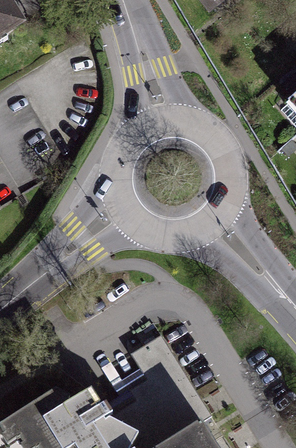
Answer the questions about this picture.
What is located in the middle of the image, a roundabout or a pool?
roundabout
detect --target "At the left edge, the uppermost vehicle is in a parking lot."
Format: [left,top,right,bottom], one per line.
[9,98,30,112]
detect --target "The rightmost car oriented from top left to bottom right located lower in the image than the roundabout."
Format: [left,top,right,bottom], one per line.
[115,352,132,372]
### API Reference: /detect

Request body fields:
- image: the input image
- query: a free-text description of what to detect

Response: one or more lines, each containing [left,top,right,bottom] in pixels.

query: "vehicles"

[275,394,296,410]
[115,352,132,372]
[27,131,48,146]
[179,349,200,366]
[112,3,124,25]
[68,112,89,128]
[174,336,194,353]
[247,350,269,366]
[93,350,120,385]
[9,98,30,112]
[53,134,71,156]
[72,60,94,71]
[187,360,208,376]
[107,283,130,301]
[84,302,106,319]
[262,368,283,384]
[255,358,277,374]
[76,88,98,98]
[62,122,82,141]
[96,179,114,200]
[210,186,228,207]
[32,141,51,156]
[73,100,94,113]
[192,372,214,388]
[166,326,189,342]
